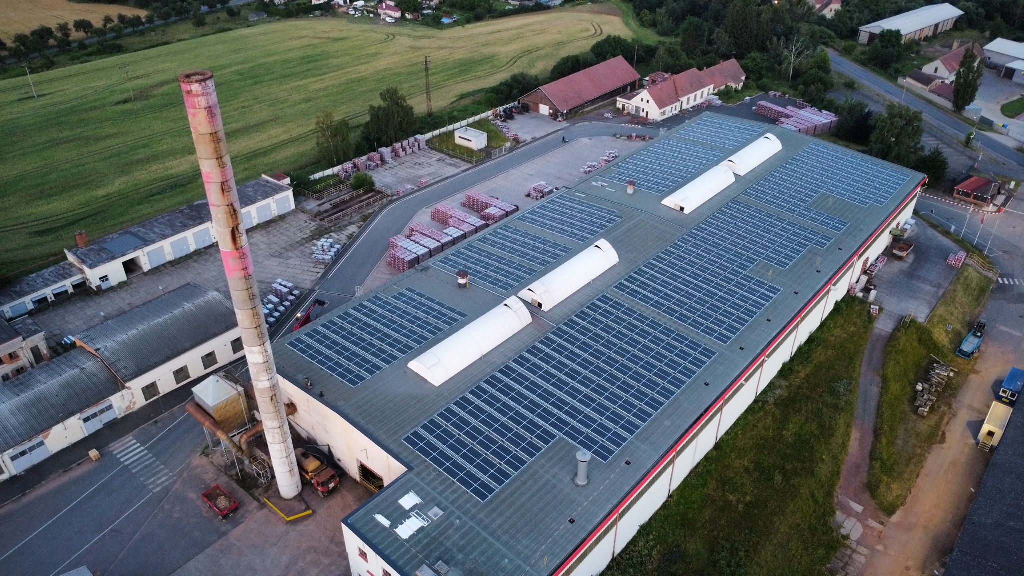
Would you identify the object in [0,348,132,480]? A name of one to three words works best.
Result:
shed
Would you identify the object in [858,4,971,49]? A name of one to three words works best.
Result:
shed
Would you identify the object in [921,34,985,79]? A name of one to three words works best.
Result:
house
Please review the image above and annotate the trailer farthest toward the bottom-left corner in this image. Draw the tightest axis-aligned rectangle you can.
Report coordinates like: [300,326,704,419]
[201,486,241,524]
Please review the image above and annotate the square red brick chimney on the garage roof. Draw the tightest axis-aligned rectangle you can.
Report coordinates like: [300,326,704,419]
[76,231,92,248]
